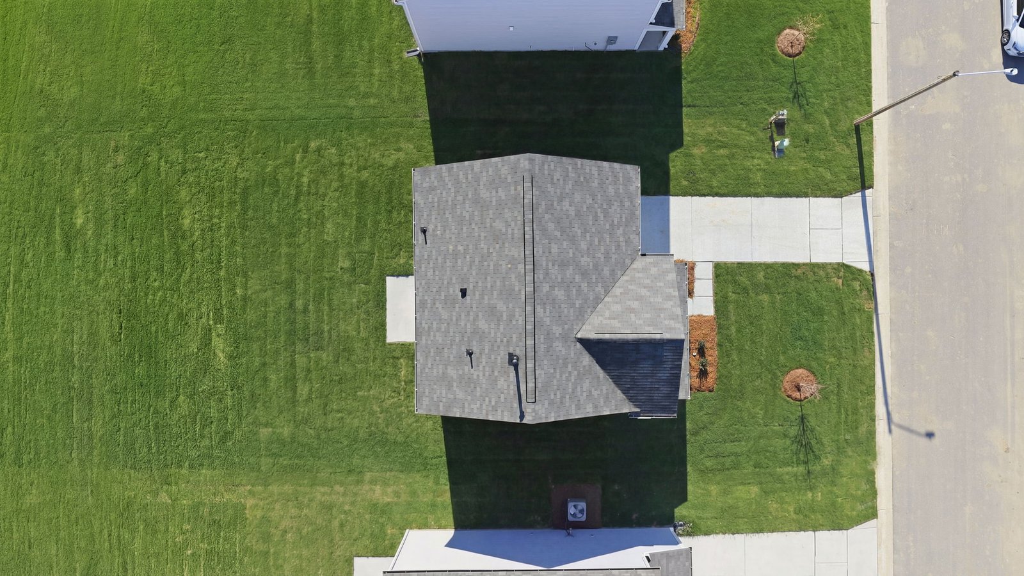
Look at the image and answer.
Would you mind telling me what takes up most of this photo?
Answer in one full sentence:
What you mostly see from above here is grass.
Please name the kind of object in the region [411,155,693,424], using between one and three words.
house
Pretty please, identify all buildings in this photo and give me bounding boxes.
[411,155,693,424]
[393,0,688,56]
[382,529,693,576]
